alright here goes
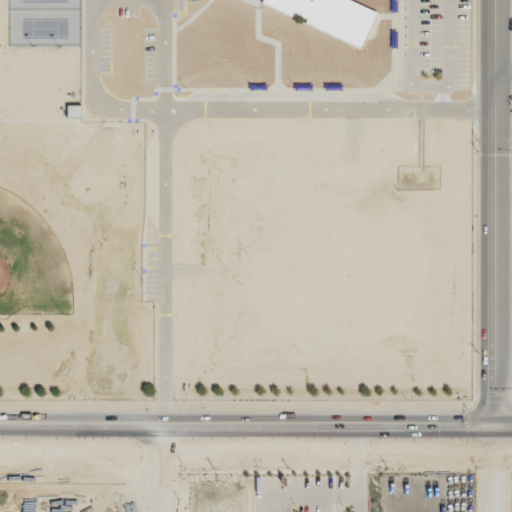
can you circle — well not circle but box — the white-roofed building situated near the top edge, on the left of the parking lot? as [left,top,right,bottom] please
[259,0,378,48]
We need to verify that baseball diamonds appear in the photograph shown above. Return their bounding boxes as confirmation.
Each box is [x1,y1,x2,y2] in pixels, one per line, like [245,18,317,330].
[0,188,74,314]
